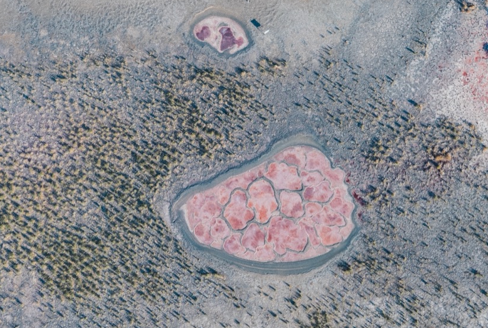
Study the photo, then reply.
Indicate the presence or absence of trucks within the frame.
No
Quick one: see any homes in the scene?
No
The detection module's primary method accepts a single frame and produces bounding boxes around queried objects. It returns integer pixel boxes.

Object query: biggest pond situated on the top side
[189,11,253,55]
